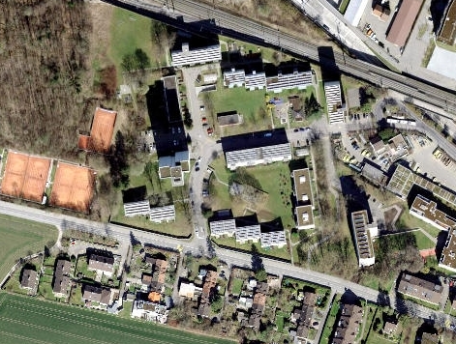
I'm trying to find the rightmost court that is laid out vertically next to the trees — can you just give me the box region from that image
[91,109,117,153]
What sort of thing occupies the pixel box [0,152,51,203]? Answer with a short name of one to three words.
tennis court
